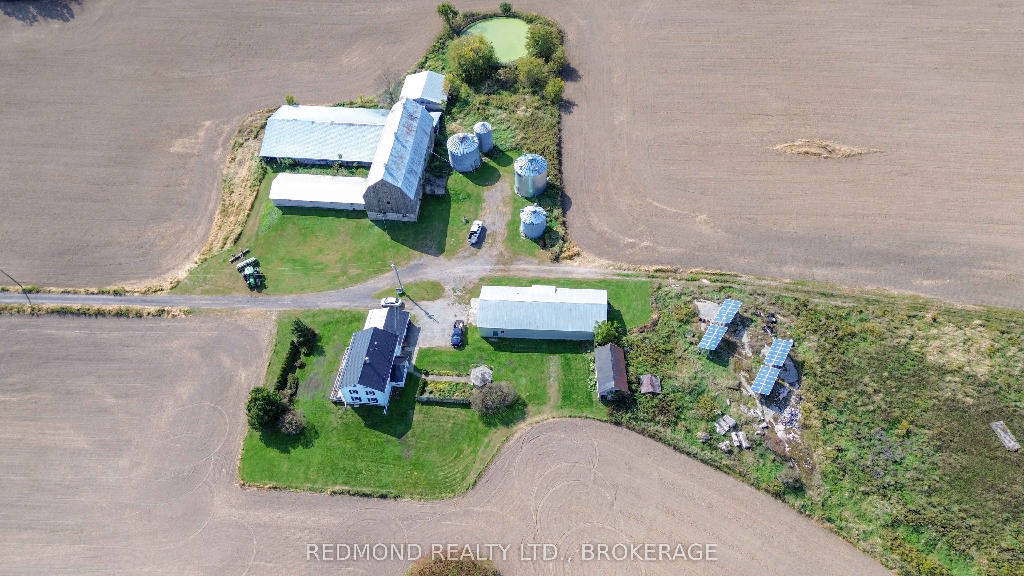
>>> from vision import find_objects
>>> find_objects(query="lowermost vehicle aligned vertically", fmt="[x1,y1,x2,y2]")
[451,321,464,347]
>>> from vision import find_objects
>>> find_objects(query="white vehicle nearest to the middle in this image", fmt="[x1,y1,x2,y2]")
[468,221,482,243]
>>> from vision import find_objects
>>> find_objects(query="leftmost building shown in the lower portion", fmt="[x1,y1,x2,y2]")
[332,306,412,415]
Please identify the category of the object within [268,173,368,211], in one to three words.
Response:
shed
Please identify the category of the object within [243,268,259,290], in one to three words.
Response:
work vehicle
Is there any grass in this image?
Yes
